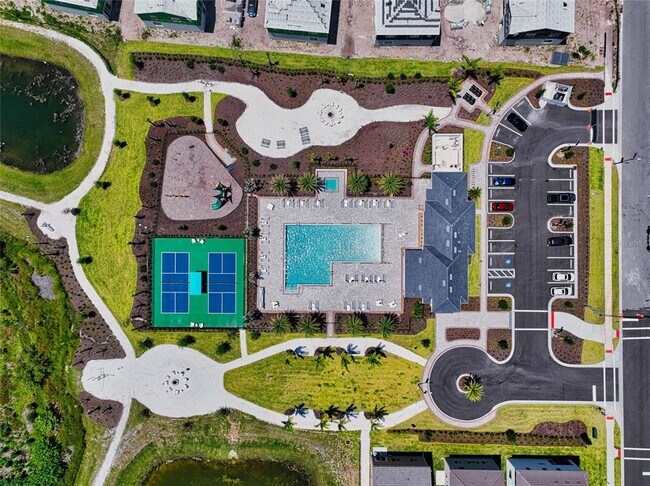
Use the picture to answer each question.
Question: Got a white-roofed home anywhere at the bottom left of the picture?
No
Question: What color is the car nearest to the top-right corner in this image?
black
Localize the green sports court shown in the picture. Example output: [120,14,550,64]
[154,238,244,327]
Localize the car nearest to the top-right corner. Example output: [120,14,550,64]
[506,113,527,133]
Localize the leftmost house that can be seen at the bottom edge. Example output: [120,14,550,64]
[371,446,430,486]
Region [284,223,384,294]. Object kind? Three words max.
swimming pool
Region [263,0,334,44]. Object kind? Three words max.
house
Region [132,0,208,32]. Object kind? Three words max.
house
